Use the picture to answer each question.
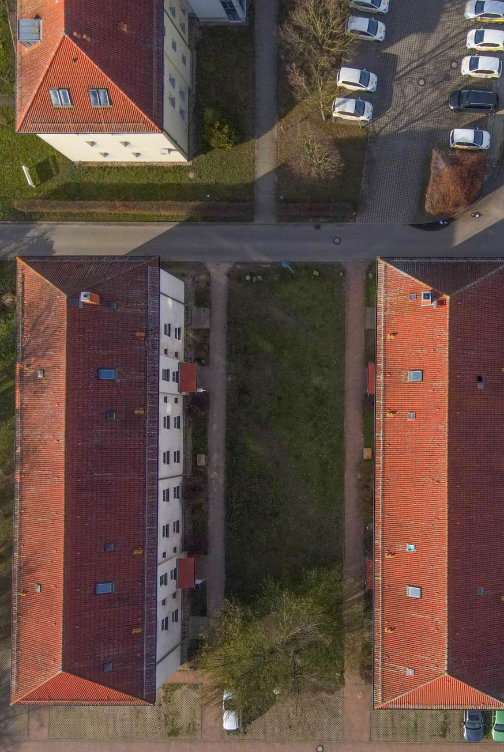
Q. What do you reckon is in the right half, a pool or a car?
car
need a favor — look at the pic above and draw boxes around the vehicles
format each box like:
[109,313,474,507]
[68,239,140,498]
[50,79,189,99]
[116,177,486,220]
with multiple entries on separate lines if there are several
[450,126,490,150]
[466,27,504,54]
[461,54,502,80]
[218,687,242,734]
[462,711,485,747]
[345,16,386,43]
[491,711,504,747]
[337,68,379,94]
[466,0,504,25]
[449,88,498,115]
[332,97,373,123]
